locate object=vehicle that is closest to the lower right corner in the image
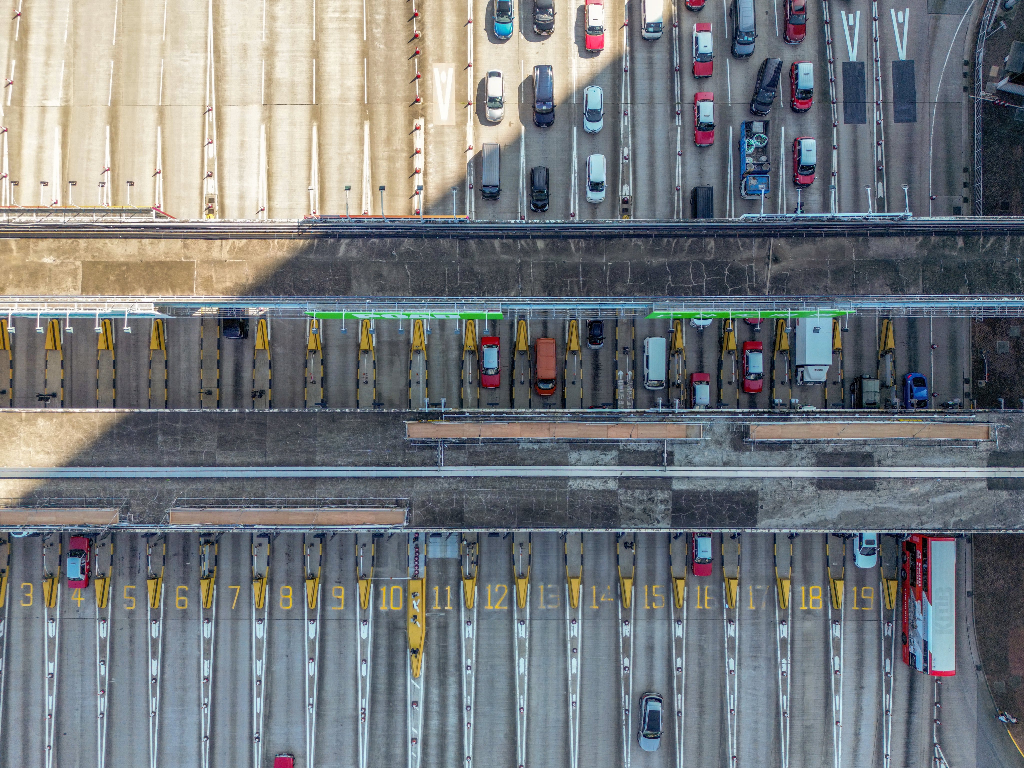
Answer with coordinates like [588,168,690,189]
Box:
[898,533,956,675]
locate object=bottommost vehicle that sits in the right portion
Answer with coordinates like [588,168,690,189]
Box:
[638,692,664,748]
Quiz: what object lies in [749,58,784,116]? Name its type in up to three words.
van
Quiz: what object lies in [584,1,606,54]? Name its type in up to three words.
car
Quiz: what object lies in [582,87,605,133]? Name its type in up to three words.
car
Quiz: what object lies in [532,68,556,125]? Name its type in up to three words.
vehicle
